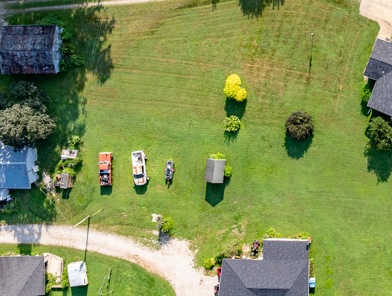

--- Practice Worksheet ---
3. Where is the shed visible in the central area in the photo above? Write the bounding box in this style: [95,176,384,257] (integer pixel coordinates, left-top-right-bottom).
[204,156,226,184]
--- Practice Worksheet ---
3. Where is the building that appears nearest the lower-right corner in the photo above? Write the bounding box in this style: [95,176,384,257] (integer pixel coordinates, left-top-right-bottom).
[219,240,314,296]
